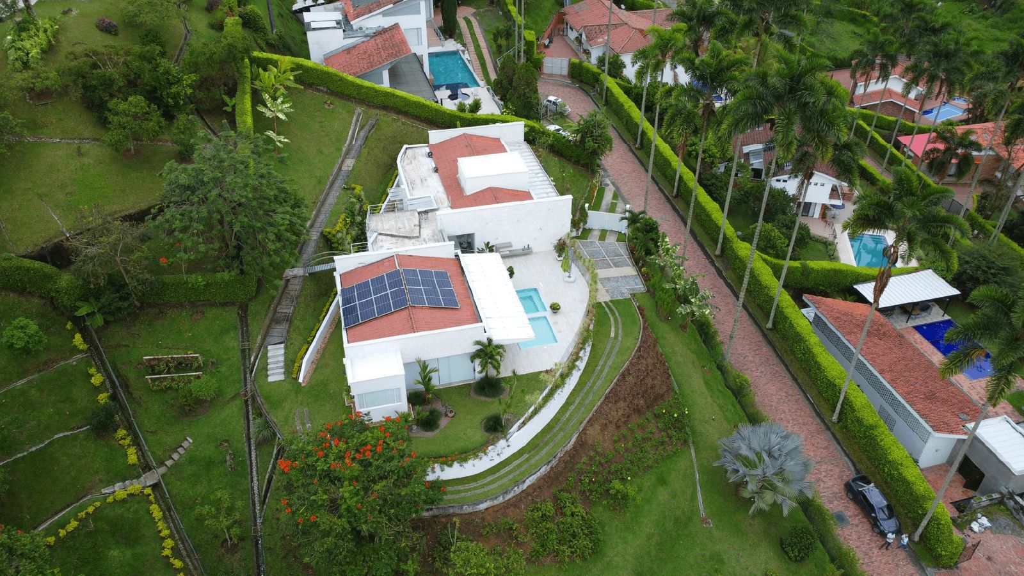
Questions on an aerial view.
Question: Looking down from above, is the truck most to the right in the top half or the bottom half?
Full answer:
The truck most to the right is in the bottom half of the image.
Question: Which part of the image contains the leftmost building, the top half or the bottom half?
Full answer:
The leftmost building is in the top half of the image.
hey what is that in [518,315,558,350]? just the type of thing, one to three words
swimming pool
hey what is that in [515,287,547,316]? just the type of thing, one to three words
swimming pool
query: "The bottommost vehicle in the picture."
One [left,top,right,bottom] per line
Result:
[843,468,907,541]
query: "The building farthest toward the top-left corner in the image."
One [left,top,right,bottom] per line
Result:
[302,0,445,113]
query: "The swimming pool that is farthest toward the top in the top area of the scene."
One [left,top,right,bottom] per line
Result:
[430,49,482,89]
